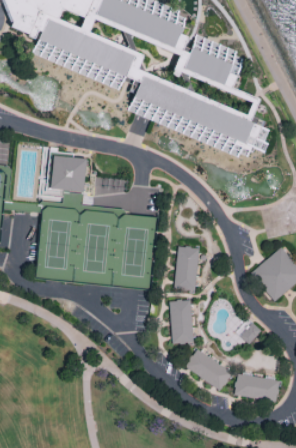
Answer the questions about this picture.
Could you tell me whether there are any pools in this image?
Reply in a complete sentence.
Yes, looking at the shot, I can spot a pool.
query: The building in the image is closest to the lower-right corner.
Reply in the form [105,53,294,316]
[234,372,280,402]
